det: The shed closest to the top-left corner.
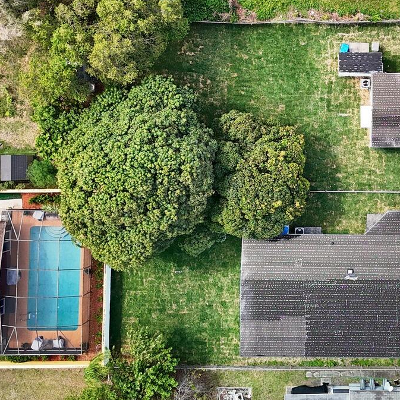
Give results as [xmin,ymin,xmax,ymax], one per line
[0,154,33,181]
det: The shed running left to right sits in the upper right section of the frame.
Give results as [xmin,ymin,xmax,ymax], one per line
[339,51,383,72]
